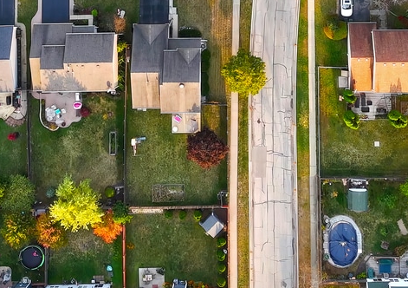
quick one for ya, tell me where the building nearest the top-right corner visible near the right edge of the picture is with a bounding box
[347,22,408,94]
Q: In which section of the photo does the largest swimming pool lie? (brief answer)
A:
bottom right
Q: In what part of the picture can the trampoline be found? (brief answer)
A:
bottom left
